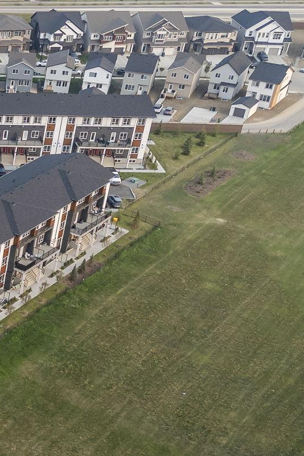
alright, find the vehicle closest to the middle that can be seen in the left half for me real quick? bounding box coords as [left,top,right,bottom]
[107,195,123,208]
